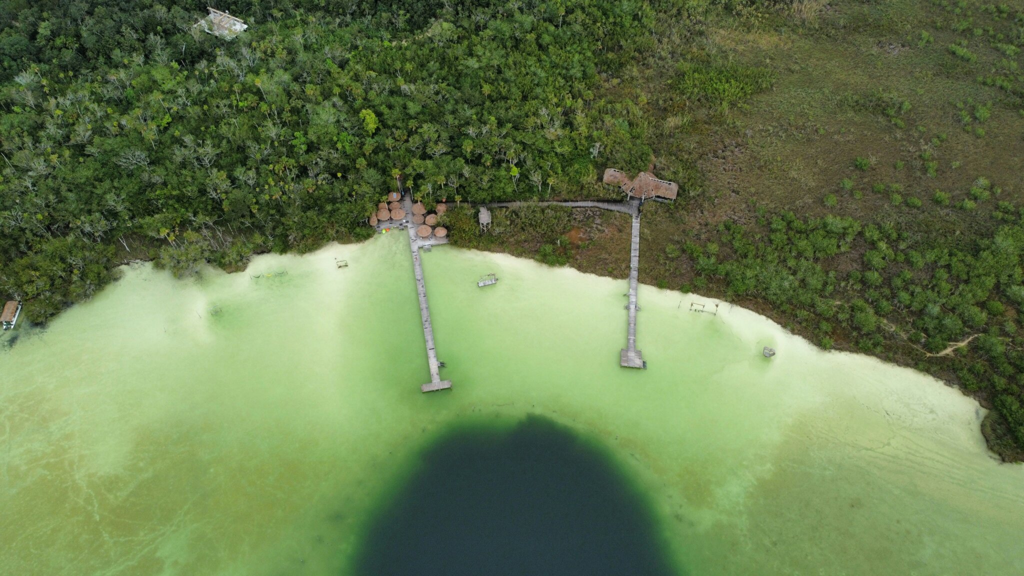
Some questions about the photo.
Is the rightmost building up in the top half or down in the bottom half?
top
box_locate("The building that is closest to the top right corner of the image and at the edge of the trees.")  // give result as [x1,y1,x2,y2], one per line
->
[603,168,678,212]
